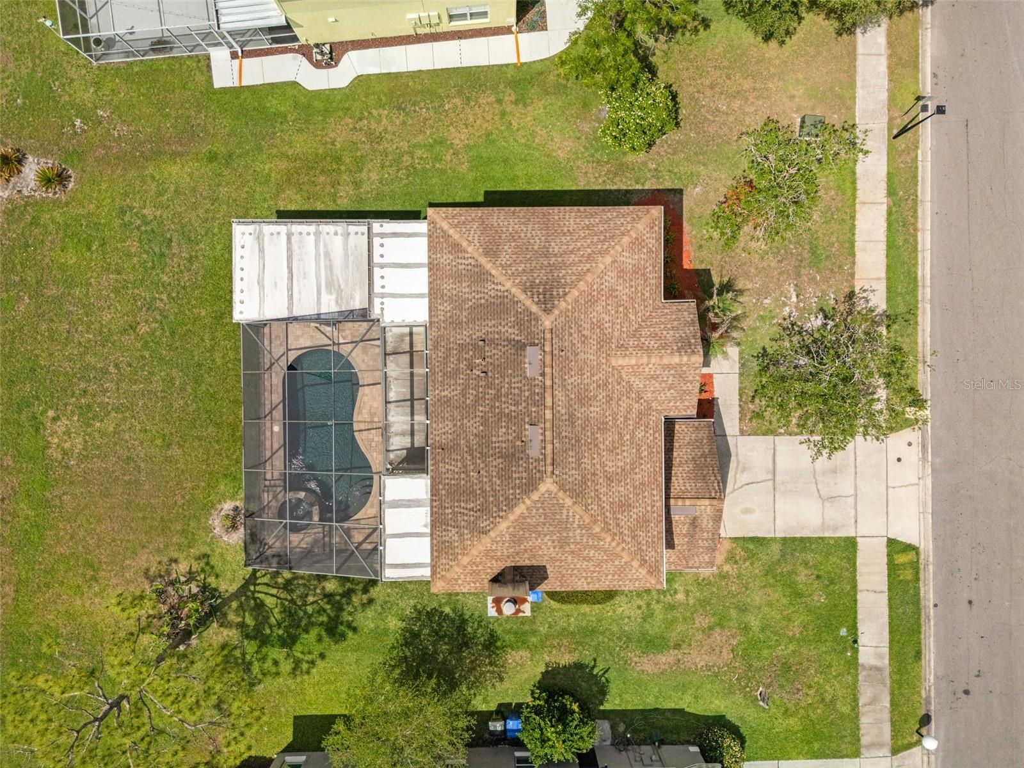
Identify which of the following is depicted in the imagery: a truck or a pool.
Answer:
pool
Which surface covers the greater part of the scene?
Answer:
grass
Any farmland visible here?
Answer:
No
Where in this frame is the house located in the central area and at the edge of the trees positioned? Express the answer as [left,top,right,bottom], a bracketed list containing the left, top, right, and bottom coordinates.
[428,204,727,617]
